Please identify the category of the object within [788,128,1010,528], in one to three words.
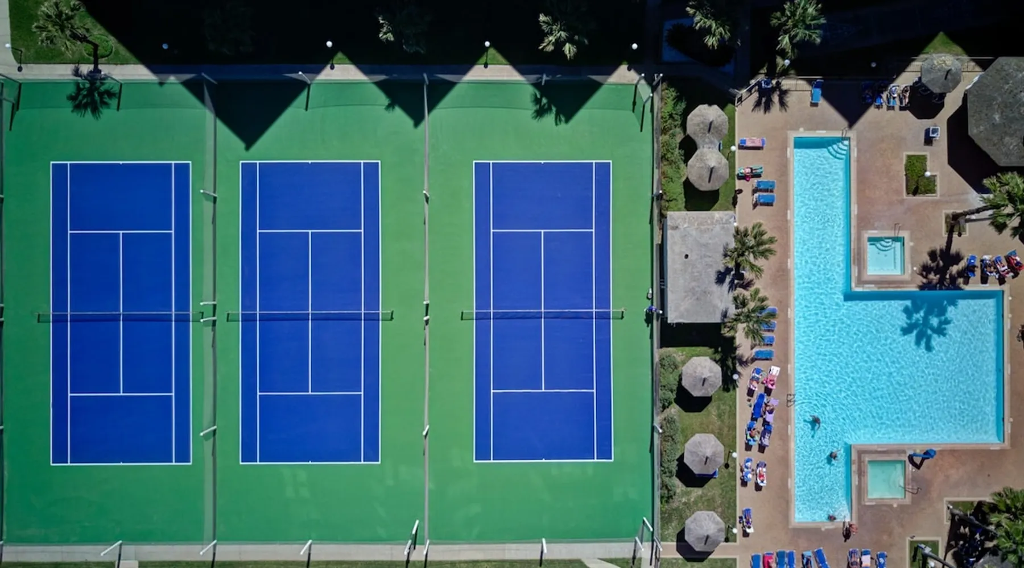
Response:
swimming pool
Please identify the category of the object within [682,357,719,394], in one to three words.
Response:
umbrella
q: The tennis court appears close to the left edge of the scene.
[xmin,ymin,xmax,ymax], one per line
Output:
[3,78,216,543]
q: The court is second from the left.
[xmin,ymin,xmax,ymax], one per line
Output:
[216,78,428,544]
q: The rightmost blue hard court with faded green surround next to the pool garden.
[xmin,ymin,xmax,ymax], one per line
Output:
[428,78,654,543]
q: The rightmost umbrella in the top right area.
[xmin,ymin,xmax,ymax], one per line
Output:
[923,55,960,93]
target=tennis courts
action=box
[428,78,654,543]
[216,78,428,544]
[3,78,216,543]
